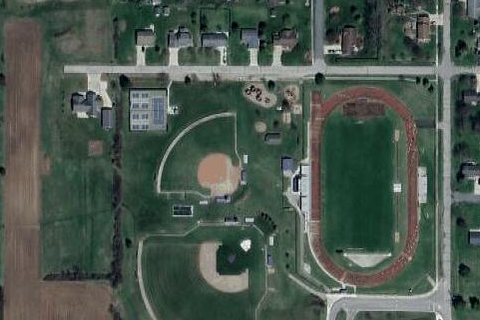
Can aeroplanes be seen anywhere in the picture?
No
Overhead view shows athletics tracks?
Yes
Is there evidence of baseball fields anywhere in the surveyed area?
Yes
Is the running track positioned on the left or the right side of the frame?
right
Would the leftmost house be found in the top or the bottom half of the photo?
top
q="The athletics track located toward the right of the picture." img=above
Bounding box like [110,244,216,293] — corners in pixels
[310,86,418,287]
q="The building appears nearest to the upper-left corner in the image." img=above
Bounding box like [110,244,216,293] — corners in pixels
[72,91,100,113]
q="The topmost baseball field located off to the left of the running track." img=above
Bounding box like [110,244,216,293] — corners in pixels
[156,112,241,196]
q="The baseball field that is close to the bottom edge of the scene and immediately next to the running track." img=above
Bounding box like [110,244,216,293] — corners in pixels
[137,225,266,320]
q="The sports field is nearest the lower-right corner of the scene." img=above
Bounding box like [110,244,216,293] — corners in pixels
[323,119,407,251]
